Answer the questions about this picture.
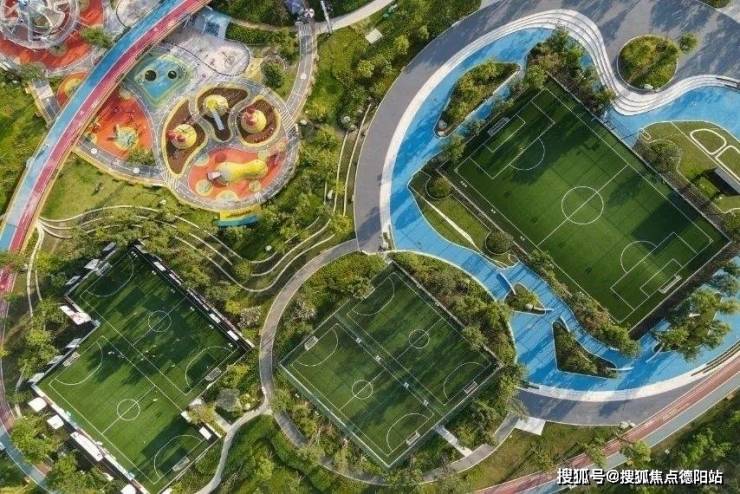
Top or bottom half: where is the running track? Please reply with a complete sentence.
The running track is in the bottom half of the image.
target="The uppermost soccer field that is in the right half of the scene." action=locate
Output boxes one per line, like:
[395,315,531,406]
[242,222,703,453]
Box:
[438,72,731,335]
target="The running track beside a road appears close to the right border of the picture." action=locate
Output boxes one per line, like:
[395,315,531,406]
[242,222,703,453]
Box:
[462,355,740,494]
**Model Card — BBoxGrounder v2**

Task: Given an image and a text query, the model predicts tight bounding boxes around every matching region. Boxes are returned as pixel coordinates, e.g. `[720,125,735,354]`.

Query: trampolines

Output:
[143,69,158,82]
[166,69,178,80]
